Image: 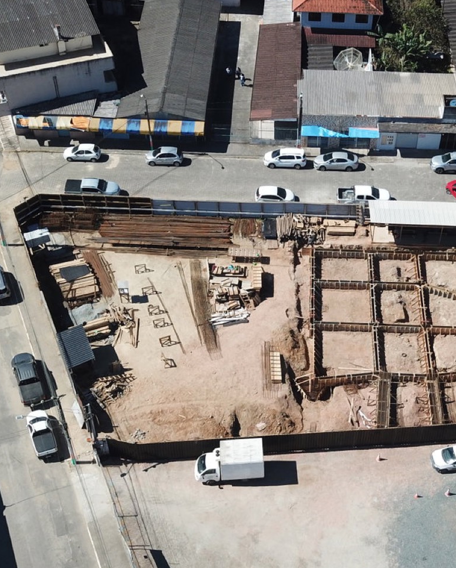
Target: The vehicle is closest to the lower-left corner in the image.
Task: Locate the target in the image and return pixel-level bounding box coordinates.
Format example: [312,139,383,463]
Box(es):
[25,407,65,470]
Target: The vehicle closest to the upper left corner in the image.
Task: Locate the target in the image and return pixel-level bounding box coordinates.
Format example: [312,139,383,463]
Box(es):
[63,143,101,161]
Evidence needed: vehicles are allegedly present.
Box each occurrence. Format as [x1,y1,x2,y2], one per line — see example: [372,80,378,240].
[445,181,456,197]
[256,184,295,201]
[63,143,101,161]
[264,146,307,167]
[145,145,184,164]
[315,151,360,170]
[0,267,11,304]
[431,440,456,474]
[13,354,49,412]
[63,174,121,197]
[25,407,65,470]
[193,439,265,485]
[335,181,392,204]
[431,151,456,172]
